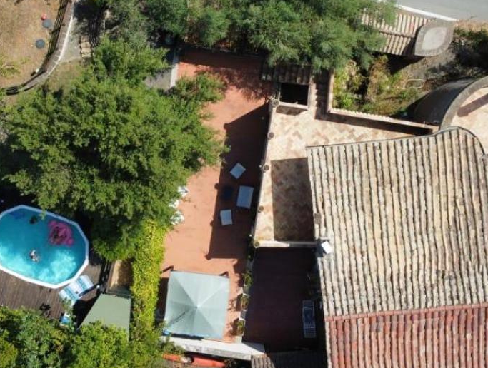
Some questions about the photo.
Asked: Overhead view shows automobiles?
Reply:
No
